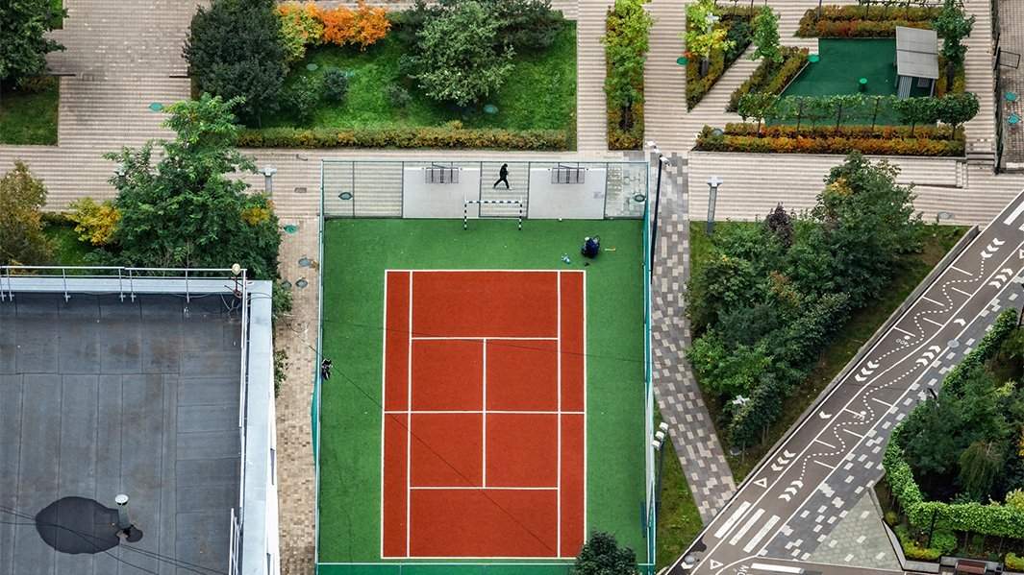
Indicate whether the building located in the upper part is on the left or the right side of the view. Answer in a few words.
right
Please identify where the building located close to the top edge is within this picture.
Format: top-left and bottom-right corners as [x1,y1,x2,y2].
[895,26,939,108]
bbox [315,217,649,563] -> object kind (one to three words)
tennis court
